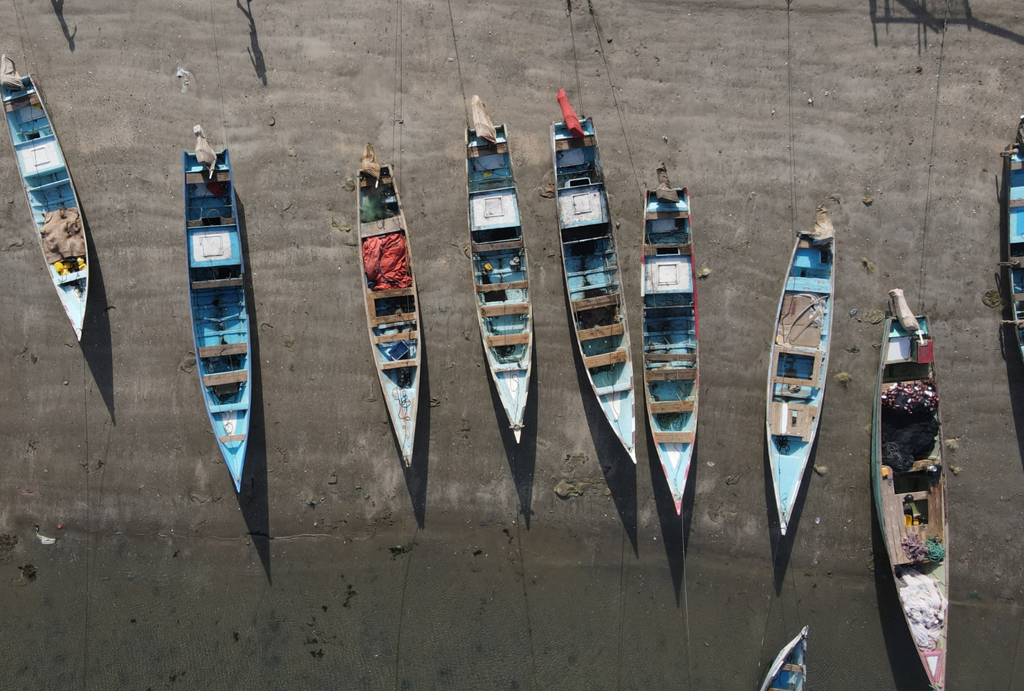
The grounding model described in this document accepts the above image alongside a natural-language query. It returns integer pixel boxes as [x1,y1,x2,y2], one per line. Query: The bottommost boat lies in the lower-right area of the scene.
[758,625,809,691]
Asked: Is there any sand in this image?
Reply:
Yes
